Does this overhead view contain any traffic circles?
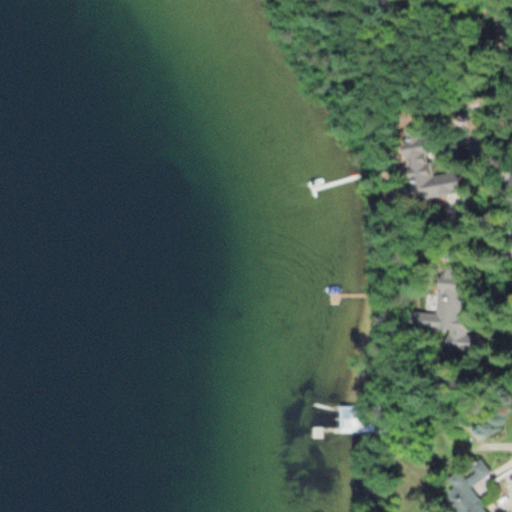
No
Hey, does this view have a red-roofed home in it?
No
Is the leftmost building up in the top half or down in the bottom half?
bottom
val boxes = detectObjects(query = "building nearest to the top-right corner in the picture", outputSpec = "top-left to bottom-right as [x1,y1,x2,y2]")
[402,138,461,198]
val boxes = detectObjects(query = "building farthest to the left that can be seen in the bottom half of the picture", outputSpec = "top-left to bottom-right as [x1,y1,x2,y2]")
[340,406,366,434]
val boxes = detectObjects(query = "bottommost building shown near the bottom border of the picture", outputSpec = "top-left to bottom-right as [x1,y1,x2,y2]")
[448,461,492,512]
